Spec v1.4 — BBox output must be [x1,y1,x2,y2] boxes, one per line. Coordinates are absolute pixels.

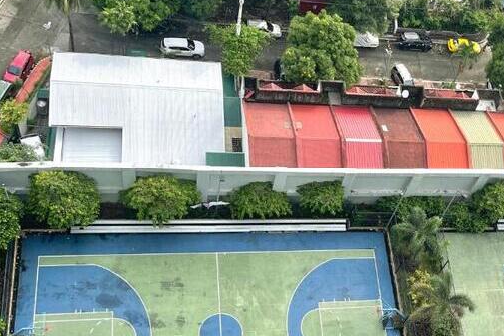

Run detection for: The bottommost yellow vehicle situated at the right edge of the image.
[446,34,482,52]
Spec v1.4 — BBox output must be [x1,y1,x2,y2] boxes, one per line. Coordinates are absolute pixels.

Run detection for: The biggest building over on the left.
[49,50,227,162]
